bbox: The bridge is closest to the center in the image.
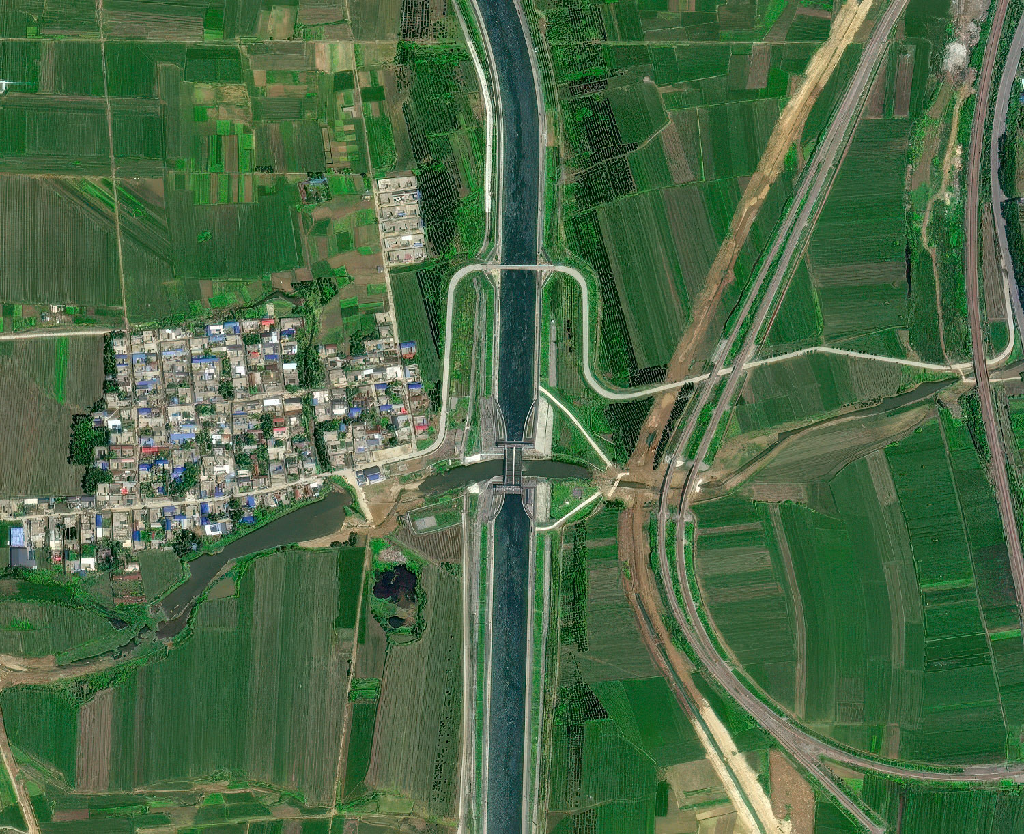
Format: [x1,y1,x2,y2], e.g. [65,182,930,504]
[505,448,523,486]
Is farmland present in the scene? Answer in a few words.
Yes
